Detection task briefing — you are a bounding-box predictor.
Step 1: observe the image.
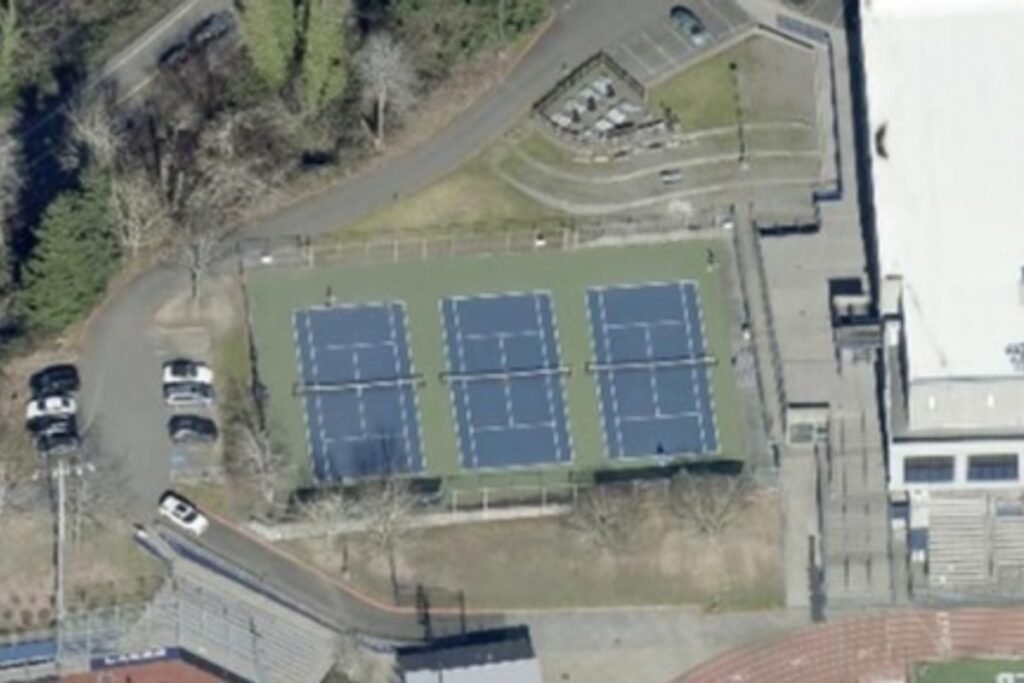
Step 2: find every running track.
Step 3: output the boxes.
[670,606,1024,683]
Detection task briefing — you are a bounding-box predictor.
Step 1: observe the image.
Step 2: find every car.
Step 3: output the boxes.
[27,369,78,394]
[158,498,205,535]
[170,420,218,443]
[163,360,213,384]
[37,431,83,454]
[28,395,76,418]
[165,383,213,406]
[187,15,231,55]
[29,415,76,438]
[671,11,709,46]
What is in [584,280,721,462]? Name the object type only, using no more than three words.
tennis court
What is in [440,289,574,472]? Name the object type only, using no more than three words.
tennis court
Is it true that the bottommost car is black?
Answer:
No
